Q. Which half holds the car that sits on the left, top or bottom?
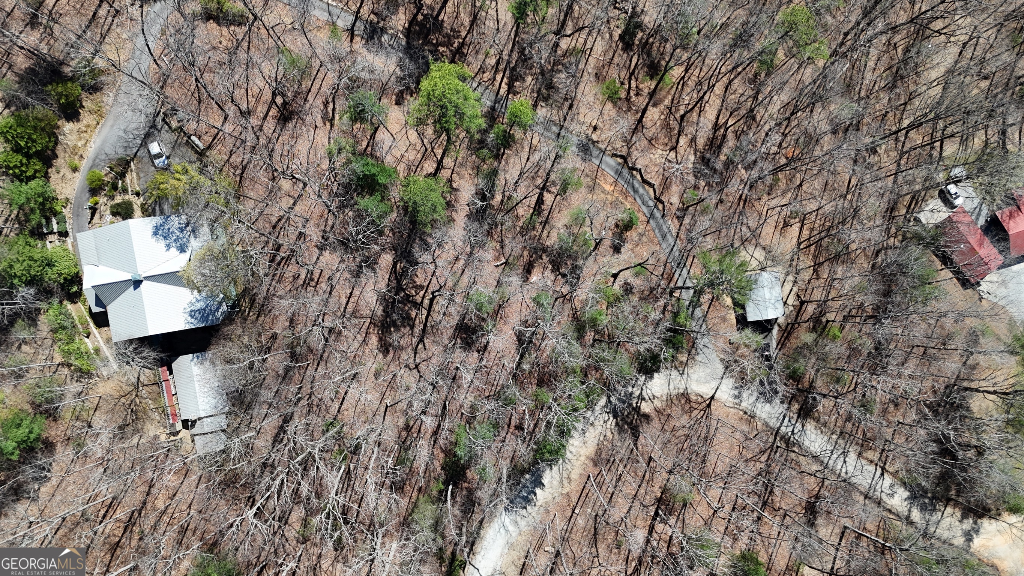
top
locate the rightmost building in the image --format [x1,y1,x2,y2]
[995,187,1024,257]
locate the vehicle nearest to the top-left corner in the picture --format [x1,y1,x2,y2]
[146,139,167,168]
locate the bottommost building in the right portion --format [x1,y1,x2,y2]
[741,272,784,321]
